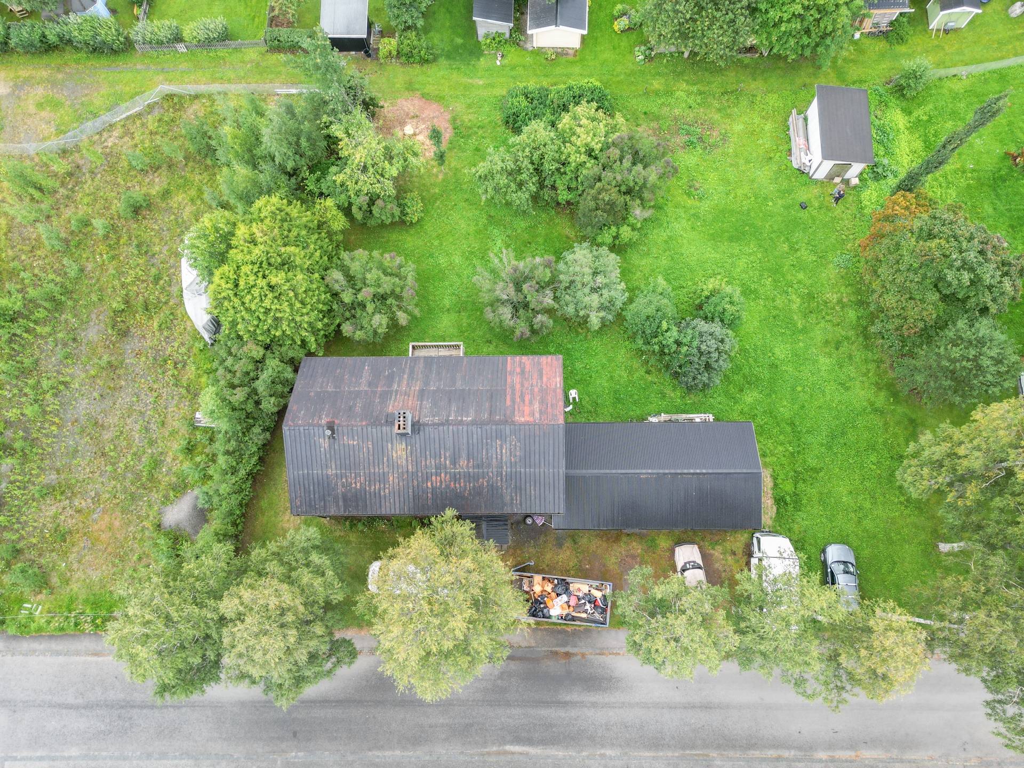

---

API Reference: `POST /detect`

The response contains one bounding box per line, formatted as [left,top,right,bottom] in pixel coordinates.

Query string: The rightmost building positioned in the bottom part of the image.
[553,420,763,531]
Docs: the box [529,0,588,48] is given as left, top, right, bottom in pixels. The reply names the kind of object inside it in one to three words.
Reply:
shed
